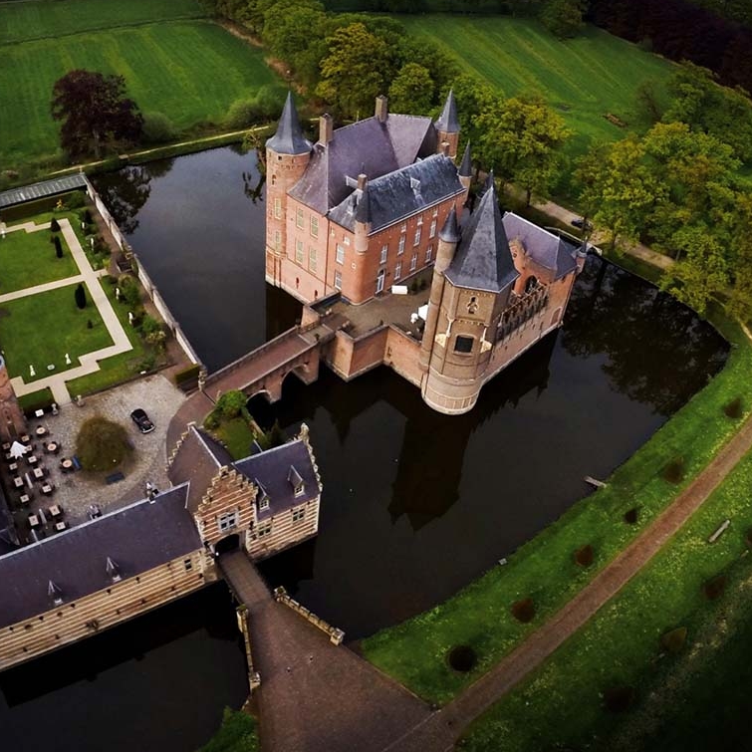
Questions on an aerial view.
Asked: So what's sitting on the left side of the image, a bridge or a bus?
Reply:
bridge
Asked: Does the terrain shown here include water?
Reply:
Yes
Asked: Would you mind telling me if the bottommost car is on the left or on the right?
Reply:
left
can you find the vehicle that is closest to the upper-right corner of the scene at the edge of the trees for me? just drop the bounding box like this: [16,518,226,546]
[569,218,593,231]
